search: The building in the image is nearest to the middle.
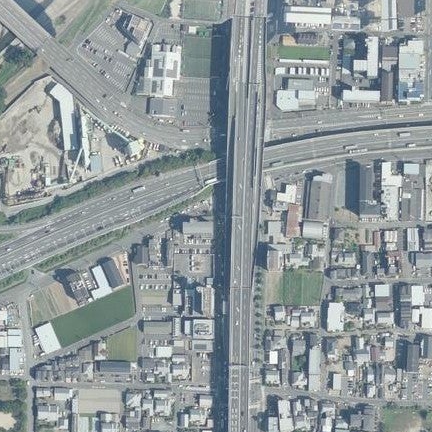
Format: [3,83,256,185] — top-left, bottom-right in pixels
[182,220,213,235]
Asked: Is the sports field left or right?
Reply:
left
